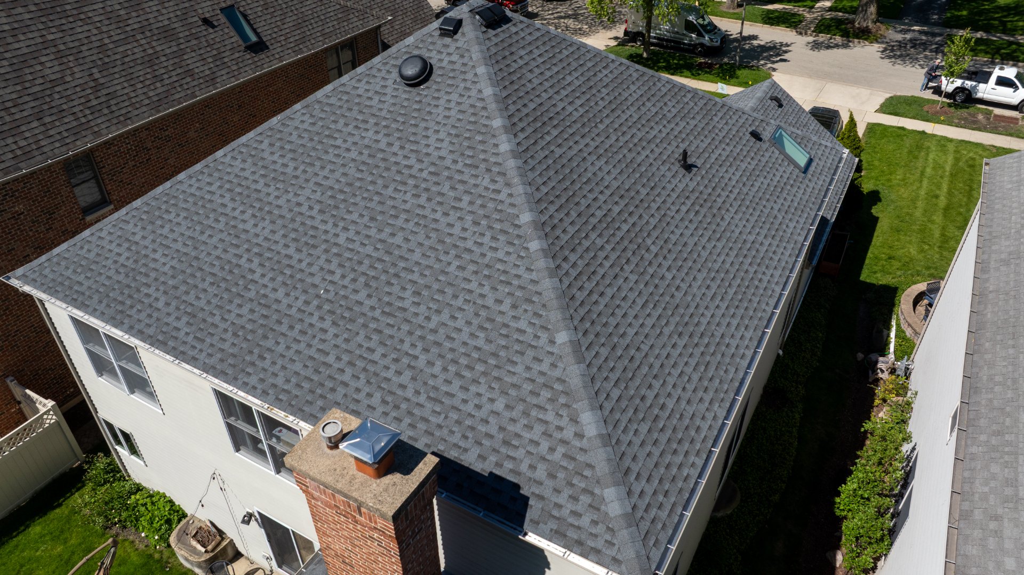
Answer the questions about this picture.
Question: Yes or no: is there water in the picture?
No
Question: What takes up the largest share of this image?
buildings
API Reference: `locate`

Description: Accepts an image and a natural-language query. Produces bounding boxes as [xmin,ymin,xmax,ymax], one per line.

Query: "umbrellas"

[67,536,118,575]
